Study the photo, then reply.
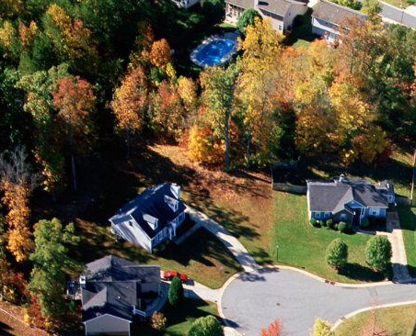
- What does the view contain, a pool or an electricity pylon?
pool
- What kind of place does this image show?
residential area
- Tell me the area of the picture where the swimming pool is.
top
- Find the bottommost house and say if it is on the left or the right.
left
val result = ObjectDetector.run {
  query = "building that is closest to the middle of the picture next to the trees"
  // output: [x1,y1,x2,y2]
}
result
[111,182,185,248]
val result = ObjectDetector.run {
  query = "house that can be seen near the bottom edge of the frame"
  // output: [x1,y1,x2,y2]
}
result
[67,255,161,335]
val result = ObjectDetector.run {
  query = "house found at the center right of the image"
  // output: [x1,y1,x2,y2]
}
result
[303,173,394,225]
